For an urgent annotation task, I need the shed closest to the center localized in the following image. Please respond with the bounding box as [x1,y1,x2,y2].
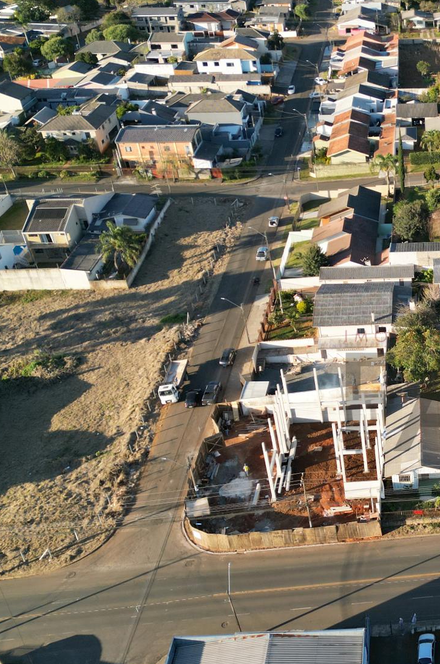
[240,382,269,417]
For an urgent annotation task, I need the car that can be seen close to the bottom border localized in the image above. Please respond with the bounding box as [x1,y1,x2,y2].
[416,633,439,664]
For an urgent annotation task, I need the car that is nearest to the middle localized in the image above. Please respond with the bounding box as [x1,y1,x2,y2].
[218,343,239,367]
